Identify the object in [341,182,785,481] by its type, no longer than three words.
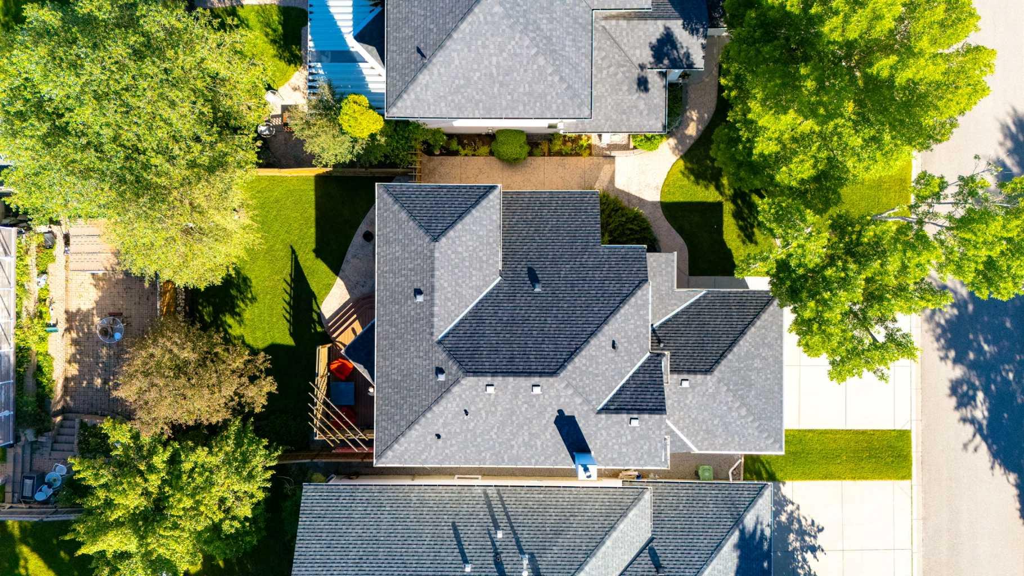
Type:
house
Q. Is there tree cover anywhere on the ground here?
Yes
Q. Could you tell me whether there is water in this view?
No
